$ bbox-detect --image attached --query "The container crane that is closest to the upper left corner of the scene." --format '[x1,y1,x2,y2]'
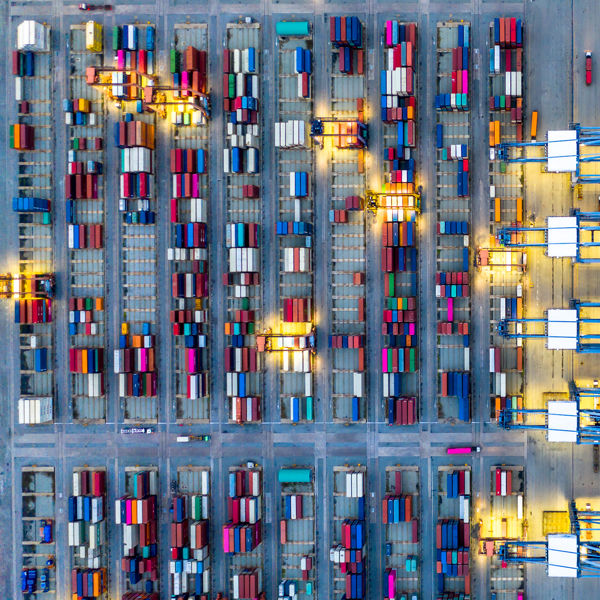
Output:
[84,66,158,105]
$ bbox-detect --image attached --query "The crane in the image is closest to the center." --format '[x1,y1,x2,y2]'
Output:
[254,324,316,356]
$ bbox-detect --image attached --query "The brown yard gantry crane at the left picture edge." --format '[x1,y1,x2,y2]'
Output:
[0,270,54,301]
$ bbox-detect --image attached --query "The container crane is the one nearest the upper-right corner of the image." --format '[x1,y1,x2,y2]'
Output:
[494,122,600,200]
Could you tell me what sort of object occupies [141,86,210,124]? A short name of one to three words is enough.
container crane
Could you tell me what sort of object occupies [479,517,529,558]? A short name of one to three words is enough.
container crane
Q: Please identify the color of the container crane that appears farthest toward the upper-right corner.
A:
white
